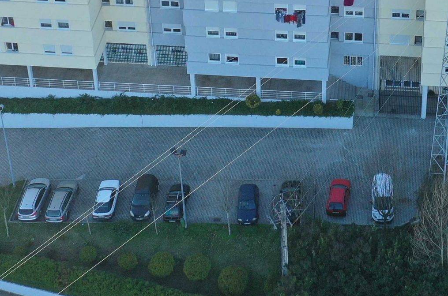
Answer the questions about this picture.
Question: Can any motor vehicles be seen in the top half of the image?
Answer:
No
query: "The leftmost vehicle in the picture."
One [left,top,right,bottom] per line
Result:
[13,179,51,222]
